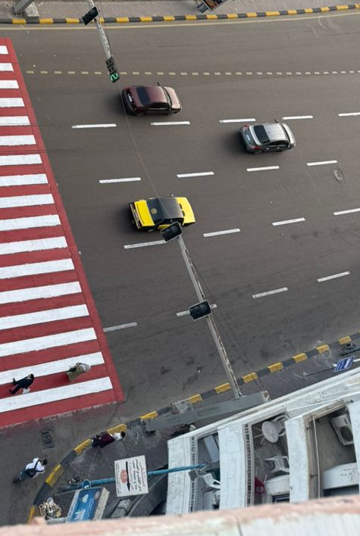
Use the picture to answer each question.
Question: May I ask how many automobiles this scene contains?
3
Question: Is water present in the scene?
No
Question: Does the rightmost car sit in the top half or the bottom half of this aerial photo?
top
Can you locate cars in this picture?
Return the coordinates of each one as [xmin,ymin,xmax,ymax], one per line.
[118,77,185,112]
[128,188,200,230]
[239,118,300,153]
